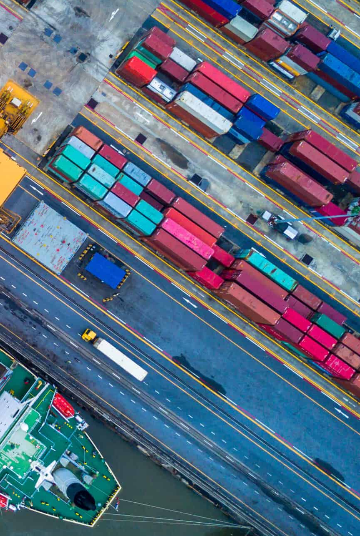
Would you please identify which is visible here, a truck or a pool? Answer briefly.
truck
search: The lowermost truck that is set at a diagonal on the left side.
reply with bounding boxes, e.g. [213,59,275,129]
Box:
[79,327,149,382]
